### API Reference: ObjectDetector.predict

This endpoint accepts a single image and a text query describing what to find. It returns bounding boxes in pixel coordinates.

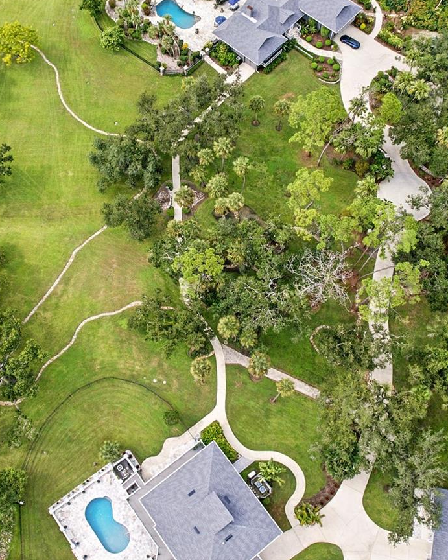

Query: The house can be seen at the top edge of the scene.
[212,0,362,81]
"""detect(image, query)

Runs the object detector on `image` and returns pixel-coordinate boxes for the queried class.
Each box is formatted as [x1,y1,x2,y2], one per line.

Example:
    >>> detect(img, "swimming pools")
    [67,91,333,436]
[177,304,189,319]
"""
[83,495,132,556]
[154,0,202,30]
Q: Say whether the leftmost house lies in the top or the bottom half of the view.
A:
bottom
